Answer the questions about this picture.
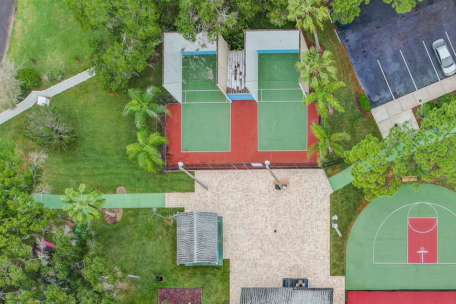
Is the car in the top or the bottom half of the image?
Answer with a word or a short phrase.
top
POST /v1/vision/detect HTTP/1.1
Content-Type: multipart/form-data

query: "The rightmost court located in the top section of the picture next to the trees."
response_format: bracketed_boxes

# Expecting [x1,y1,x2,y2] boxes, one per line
[244,28,324,167]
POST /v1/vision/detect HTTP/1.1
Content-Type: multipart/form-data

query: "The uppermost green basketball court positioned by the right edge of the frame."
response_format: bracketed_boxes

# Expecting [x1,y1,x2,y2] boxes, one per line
[345,183,456,289]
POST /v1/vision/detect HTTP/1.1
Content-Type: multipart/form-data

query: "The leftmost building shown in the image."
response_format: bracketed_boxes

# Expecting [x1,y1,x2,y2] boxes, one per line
[176,210,223,265]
